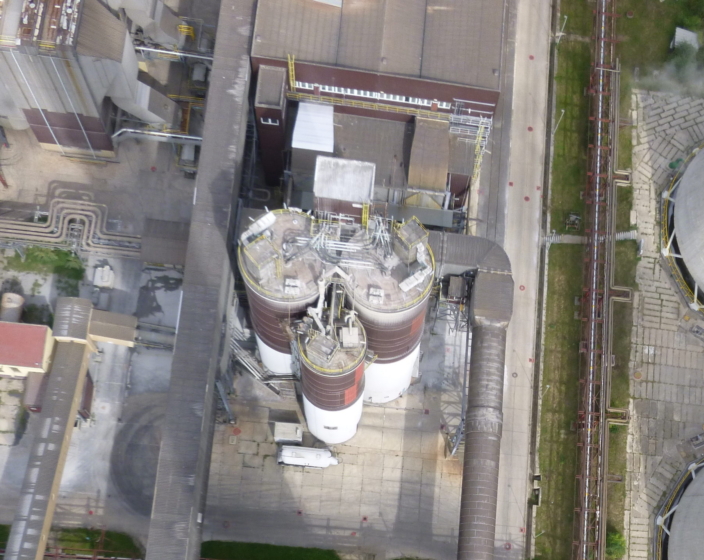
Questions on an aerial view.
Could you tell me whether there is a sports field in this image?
No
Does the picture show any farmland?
No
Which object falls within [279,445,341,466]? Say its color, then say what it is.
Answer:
white trailer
